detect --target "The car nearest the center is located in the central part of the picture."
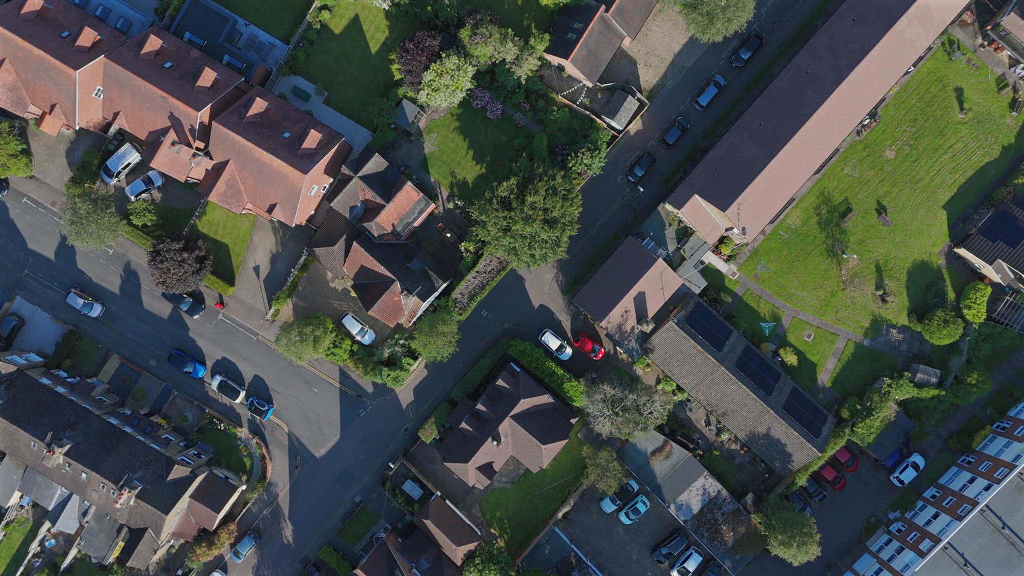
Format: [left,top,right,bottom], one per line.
[538,327,572,361]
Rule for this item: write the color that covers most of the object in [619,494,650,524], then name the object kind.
blue car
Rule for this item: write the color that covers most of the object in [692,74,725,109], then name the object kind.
blue car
